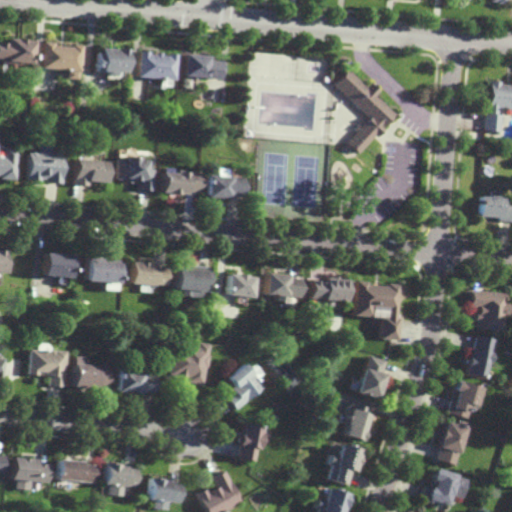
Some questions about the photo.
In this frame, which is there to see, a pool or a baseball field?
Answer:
pool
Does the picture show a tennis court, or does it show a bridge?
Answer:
tennis court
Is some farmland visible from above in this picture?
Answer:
No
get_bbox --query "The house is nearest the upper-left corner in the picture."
[0,37,41,66]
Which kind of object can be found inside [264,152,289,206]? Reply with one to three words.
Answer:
tennis court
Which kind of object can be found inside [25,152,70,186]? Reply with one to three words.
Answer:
house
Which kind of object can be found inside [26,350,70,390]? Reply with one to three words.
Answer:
house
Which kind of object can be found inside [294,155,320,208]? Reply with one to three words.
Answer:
tennis court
